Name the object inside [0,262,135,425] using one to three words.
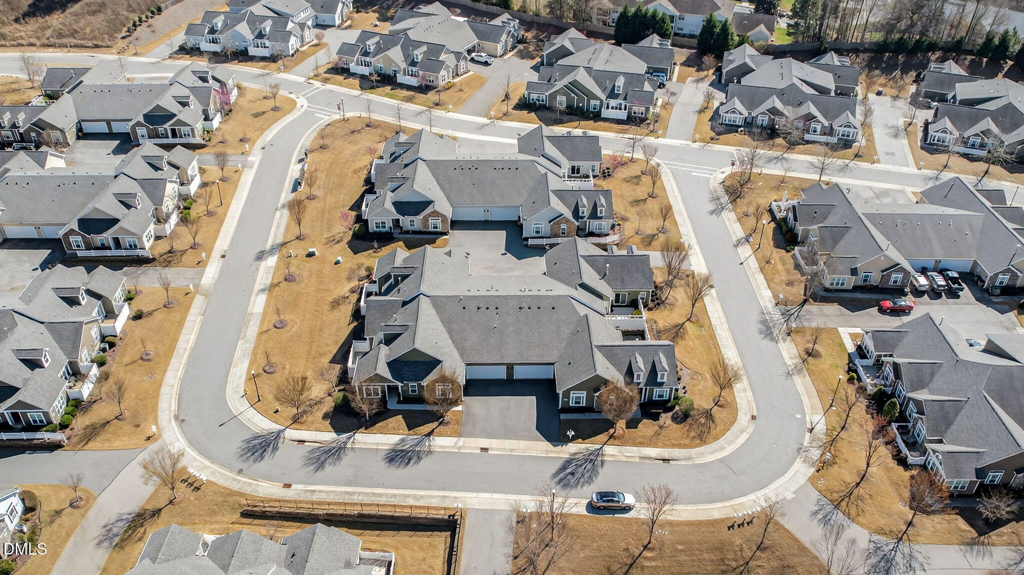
house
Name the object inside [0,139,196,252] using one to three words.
house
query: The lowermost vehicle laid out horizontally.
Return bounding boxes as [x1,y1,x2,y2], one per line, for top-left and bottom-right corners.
[590,489,637,512]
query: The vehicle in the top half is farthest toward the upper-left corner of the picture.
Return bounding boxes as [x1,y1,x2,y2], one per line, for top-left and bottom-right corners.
[470,52,496,64]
